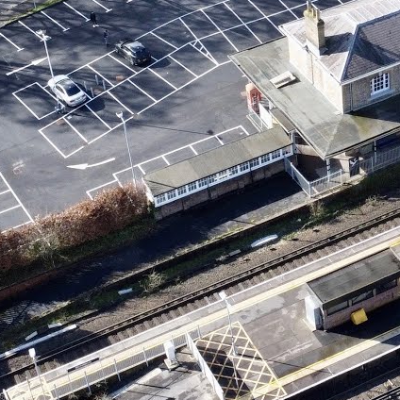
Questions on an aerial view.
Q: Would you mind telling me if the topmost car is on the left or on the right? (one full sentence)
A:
It is on the left.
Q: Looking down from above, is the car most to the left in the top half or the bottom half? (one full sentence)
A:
Seen from above, the car most to the left lies in the top half of the view.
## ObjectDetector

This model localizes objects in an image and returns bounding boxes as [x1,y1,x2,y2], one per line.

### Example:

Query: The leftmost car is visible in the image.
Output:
[40,77,92,110]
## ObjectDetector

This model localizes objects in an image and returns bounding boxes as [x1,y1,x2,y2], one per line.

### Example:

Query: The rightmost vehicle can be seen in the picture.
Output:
[111,40,153,70]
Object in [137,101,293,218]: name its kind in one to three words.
shed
